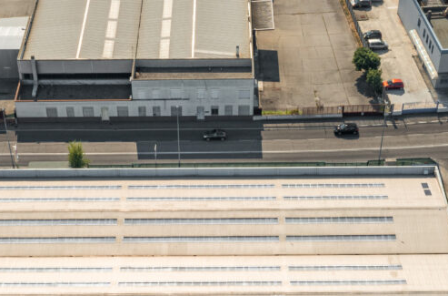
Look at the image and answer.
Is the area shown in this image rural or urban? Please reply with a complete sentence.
The land in this view is best described as urban.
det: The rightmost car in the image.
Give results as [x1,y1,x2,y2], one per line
[387,77,405,90]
